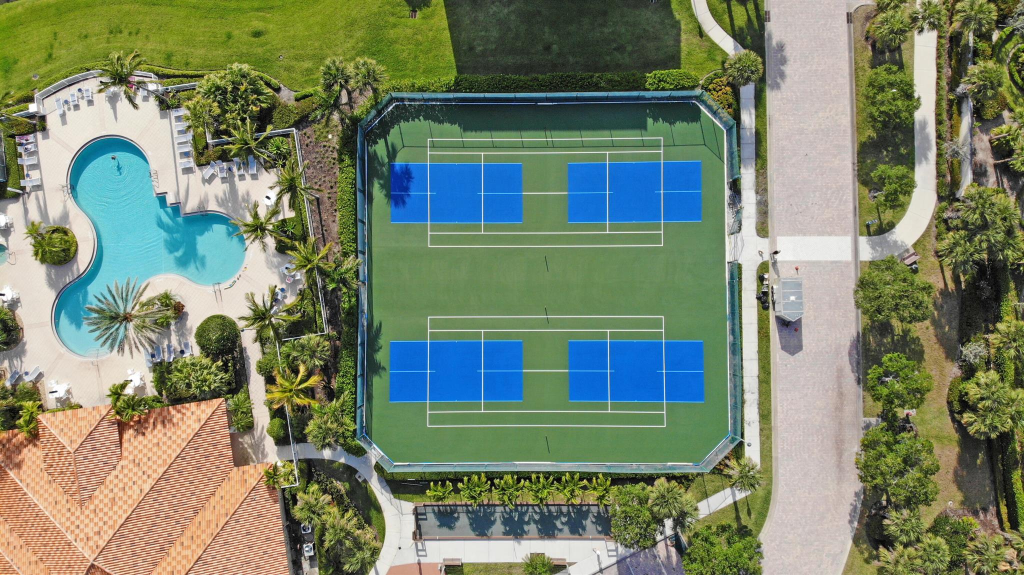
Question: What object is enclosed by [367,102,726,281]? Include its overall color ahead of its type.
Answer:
green tennis court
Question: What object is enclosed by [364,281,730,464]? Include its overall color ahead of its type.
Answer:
green tennis court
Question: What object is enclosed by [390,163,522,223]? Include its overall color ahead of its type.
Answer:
blue sports court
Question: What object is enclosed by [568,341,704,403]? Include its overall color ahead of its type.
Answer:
blue sports court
